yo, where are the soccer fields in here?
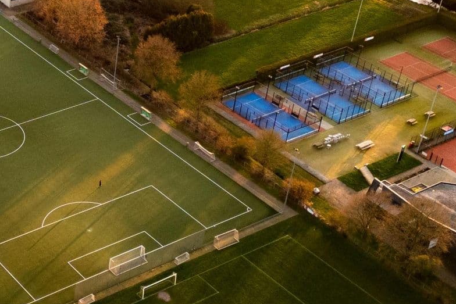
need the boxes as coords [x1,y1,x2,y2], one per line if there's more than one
[121,229,391,304]
[0,12,279,304]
